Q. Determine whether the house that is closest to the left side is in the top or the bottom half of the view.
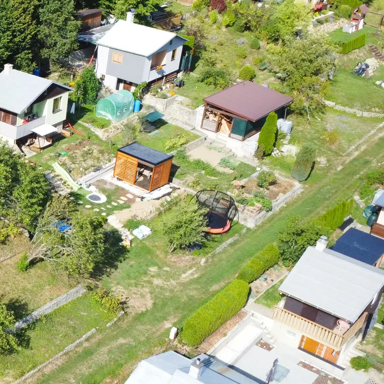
top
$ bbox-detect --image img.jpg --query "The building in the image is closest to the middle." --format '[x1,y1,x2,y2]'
[114,140,178,203]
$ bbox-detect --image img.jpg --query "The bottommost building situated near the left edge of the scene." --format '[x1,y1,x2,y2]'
[0,59,75,144]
